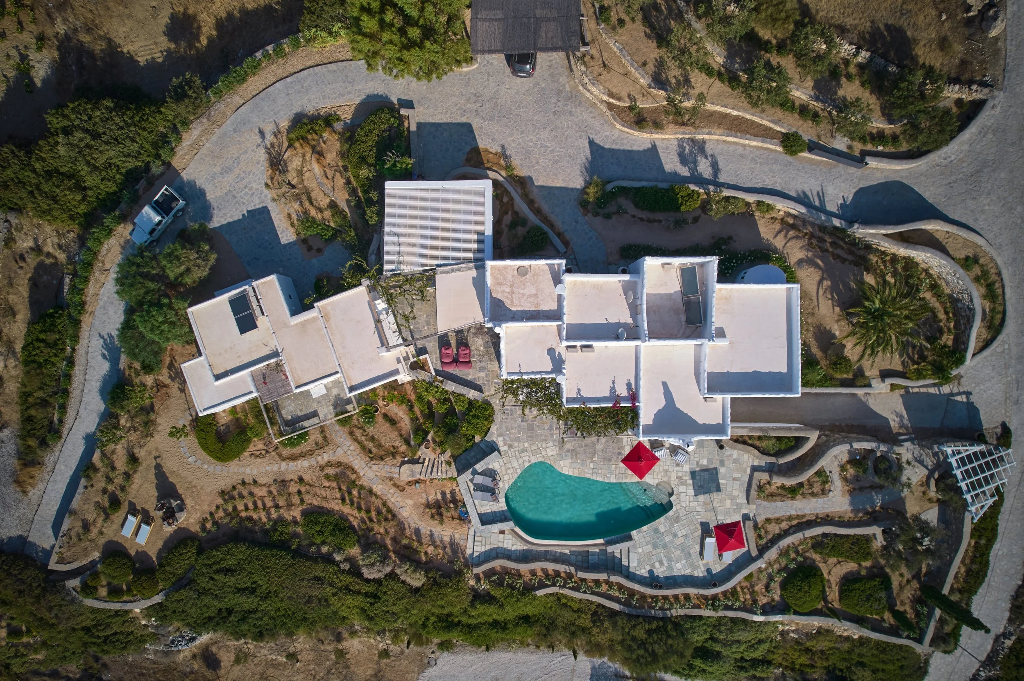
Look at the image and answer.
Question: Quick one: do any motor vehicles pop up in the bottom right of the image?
No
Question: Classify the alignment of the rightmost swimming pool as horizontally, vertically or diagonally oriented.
horizontally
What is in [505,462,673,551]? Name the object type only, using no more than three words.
swimming pool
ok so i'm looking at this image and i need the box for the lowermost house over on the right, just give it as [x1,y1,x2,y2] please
[485,257,801,450]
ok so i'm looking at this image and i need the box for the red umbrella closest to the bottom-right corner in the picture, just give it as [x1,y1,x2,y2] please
[713,520,745,554]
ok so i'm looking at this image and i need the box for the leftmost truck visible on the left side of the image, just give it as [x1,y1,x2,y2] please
[132,184,189,249]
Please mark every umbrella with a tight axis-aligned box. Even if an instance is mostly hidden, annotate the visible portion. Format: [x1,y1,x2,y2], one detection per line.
[621,441,660,480]
[713,520,745,554]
